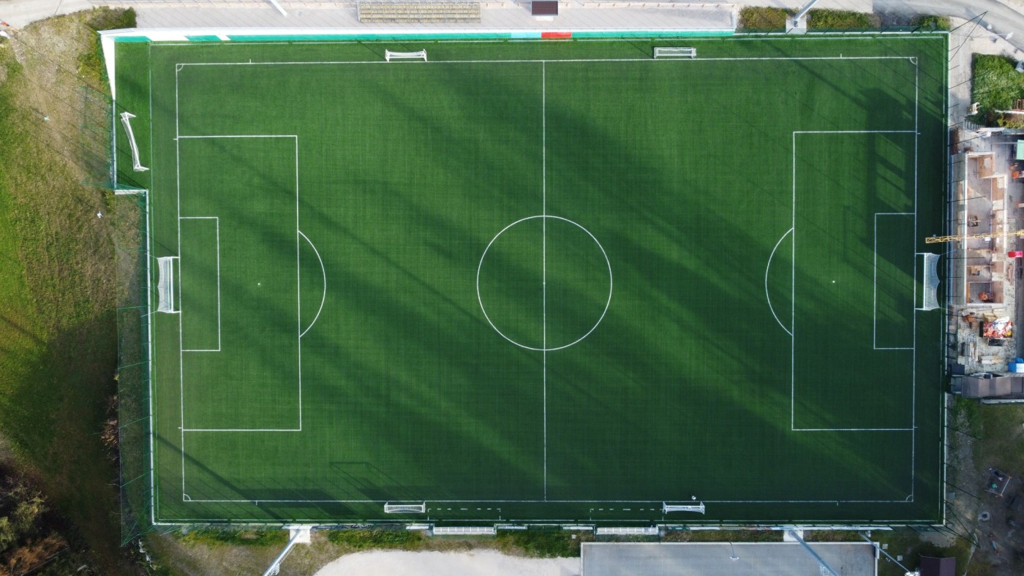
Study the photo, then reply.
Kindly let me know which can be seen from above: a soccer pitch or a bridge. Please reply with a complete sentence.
Visible in the photo is a soccer pitch.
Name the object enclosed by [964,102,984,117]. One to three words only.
work vehicle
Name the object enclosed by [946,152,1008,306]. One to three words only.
building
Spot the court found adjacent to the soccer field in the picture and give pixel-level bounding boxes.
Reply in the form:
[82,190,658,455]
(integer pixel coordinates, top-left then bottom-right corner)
[581,541,879,576]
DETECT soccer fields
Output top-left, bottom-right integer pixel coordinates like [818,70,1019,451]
[115,34,947,524]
